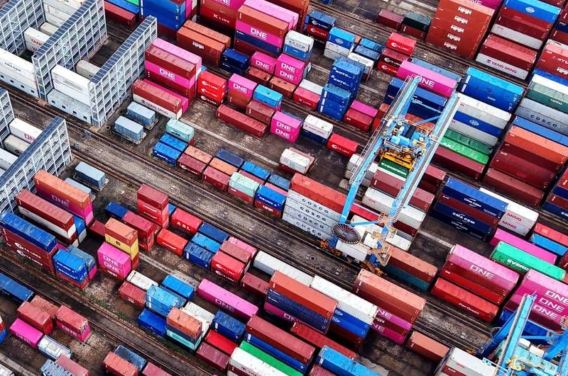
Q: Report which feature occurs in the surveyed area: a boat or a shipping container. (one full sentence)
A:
This aerial view contains a shipping container.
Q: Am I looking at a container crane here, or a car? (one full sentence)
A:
There is a container crane in the scene.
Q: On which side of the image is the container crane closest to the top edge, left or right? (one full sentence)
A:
It is on the right.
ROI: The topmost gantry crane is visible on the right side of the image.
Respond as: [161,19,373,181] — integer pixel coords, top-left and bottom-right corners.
[312,70,465,283]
